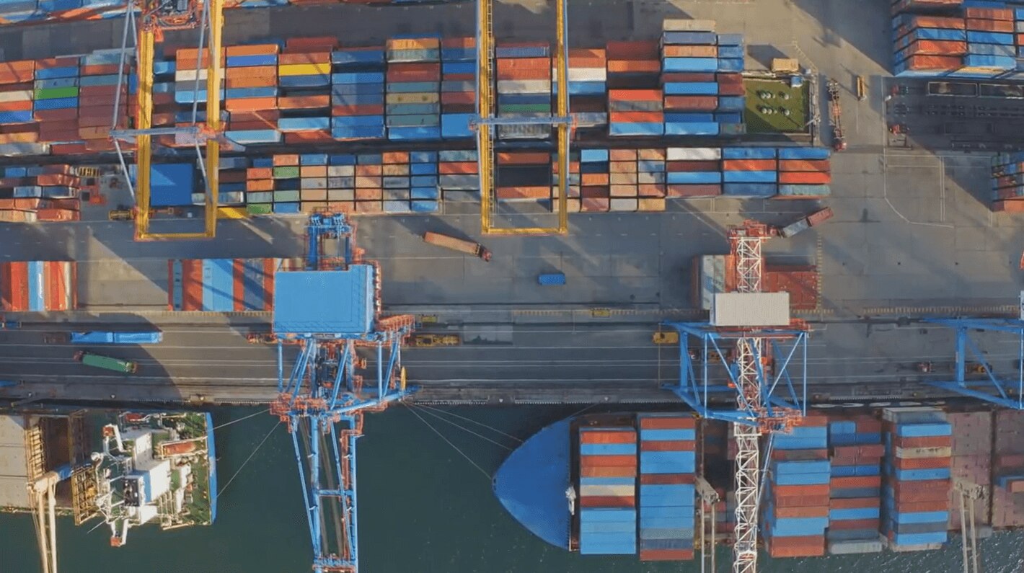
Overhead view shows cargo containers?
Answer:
Yes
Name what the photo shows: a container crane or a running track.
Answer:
container crane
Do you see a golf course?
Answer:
No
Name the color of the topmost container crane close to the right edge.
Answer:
blue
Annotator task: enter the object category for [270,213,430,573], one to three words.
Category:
container crane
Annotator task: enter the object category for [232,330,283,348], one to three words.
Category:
work vehicle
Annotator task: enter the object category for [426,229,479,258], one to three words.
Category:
shipping container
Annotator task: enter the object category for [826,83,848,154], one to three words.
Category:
truck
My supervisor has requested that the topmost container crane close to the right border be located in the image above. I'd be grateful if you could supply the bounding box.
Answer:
[910,292,1024,421]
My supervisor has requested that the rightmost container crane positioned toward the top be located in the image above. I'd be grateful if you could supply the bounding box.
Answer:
[470,0,581,238]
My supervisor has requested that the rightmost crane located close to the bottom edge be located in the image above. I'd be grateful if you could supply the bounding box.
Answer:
[954,472,1022,573]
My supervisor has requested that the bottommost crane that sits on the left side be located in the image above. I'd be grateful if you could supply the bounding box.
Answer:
[26,463,97,573]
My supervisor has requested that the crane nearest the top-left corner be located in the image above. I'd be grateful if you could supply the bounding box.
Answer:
[104,0,265,243]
